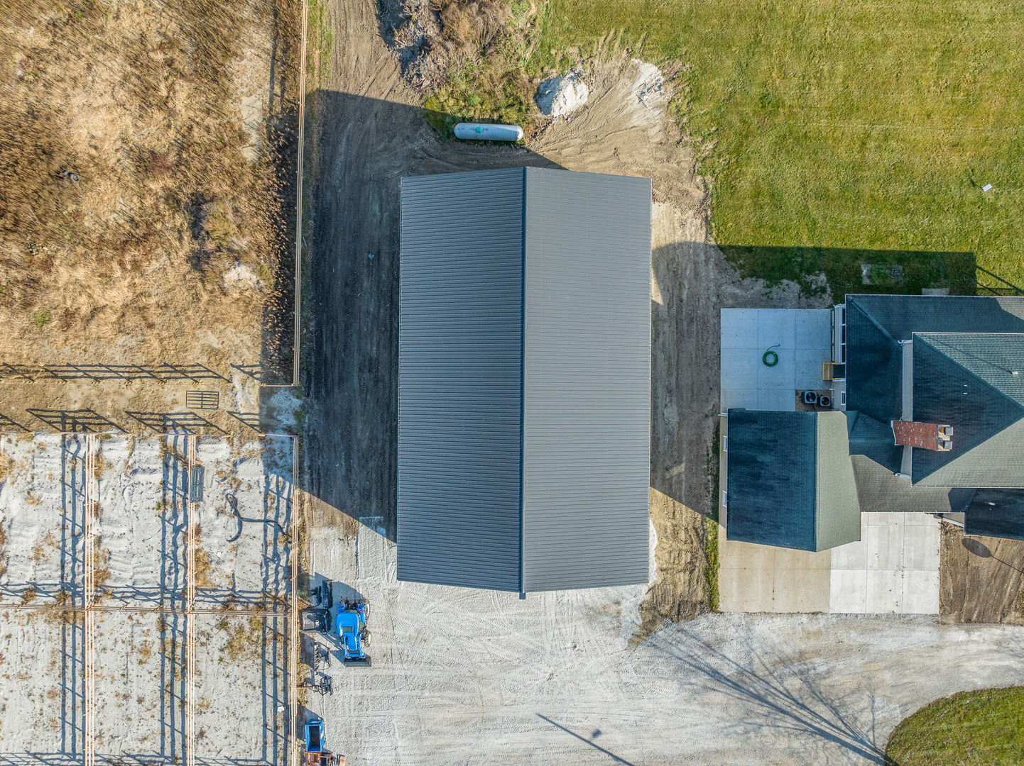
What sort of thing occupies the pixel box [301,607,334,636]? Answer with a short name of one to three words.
vehicle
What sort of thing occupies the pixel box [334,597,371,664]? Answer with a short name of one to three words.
work vehicle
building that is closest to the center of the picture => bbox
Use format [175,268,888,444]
[396,167,653,600]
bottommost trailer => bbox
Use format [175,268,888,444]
[303,714,327,755]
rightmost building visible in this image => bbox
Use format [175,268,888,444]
[714,292,1024,554]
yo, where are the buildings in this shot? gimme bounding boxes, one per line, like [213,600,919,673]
[714,292,1024,554]
[396,167,653,600]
